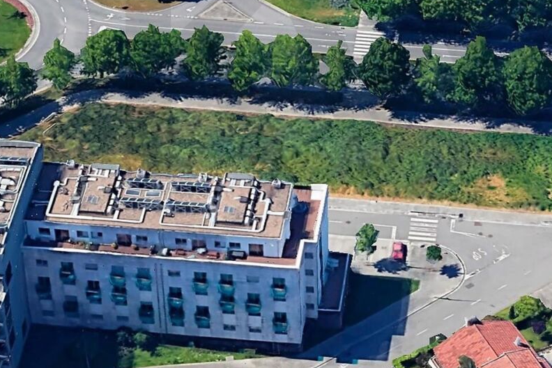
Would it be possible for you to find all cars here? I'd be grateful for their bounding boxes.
[393,241,406,263]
